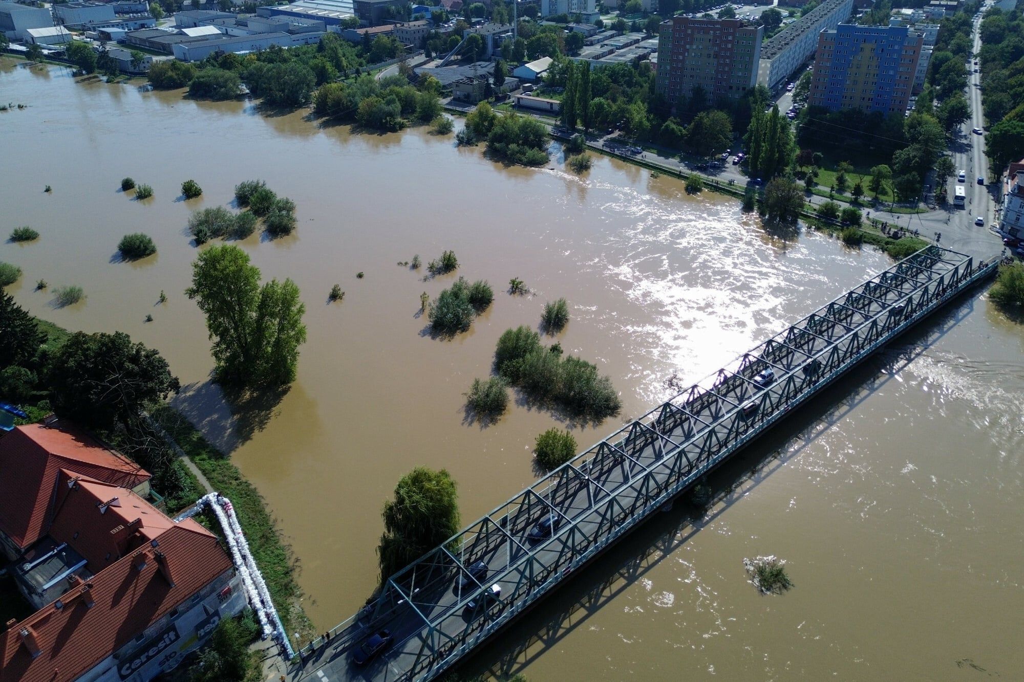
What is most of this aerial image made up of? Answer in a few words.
water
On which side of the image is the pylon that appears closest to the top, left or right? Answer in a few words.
left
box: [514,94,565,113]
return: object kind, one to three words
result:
shed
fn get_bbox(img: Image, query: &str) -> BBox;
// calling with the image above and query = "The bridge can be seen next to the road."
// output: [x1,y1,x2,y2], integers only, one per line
[294,245,985,682]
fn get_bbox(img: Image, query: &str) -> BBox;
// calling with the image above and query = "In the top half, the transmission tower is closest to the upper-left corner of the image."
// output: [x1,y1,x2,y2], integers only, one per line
[37,0,72,57]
